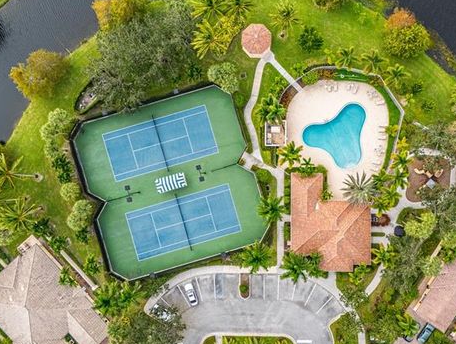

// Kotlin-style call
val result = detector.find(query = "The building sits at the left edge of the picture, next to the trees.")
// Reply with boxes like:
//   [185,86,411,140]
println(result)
[0,243,110,344]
